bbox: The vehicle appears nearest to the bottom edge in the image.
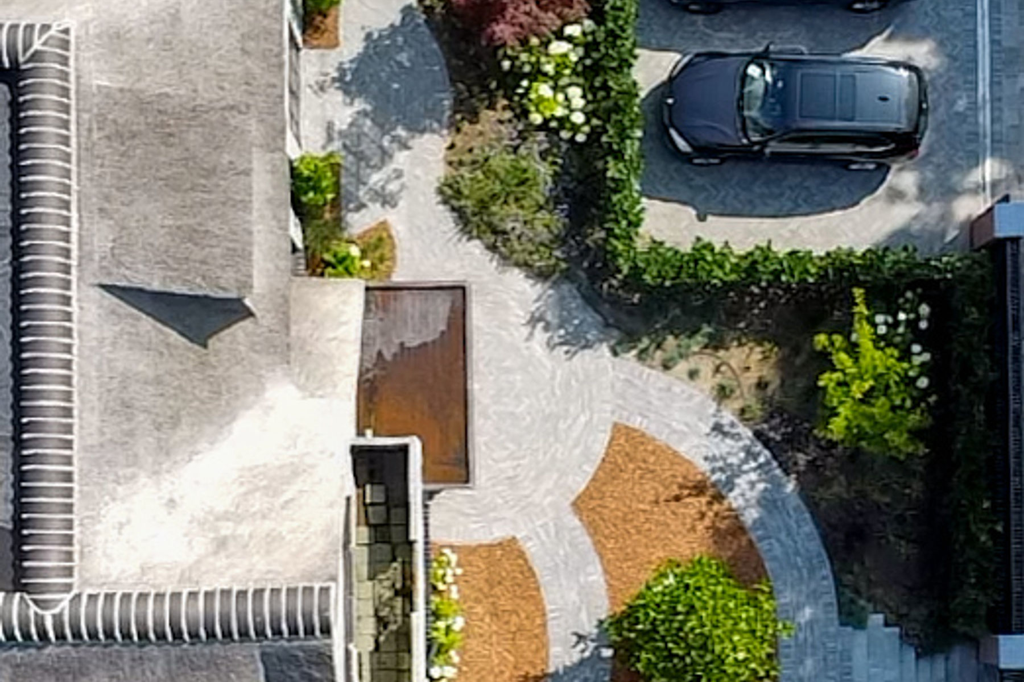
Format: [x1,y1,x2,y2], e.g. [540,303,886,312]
[662,40,927,169]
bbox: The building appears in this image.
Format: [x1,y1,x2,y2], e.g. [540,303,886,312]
[0,0,362,682]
